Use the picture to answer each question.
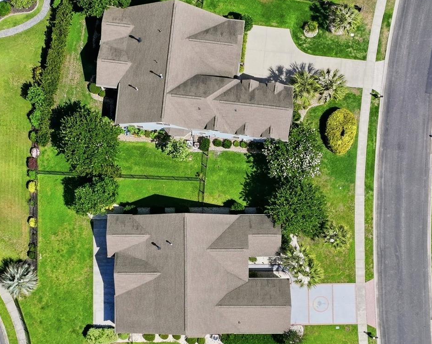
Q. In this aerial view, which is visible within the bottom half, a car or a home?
home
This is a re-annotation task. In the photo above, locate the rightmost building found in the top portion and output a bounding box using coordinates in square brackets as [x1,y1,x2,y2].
[96,0,294,141]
